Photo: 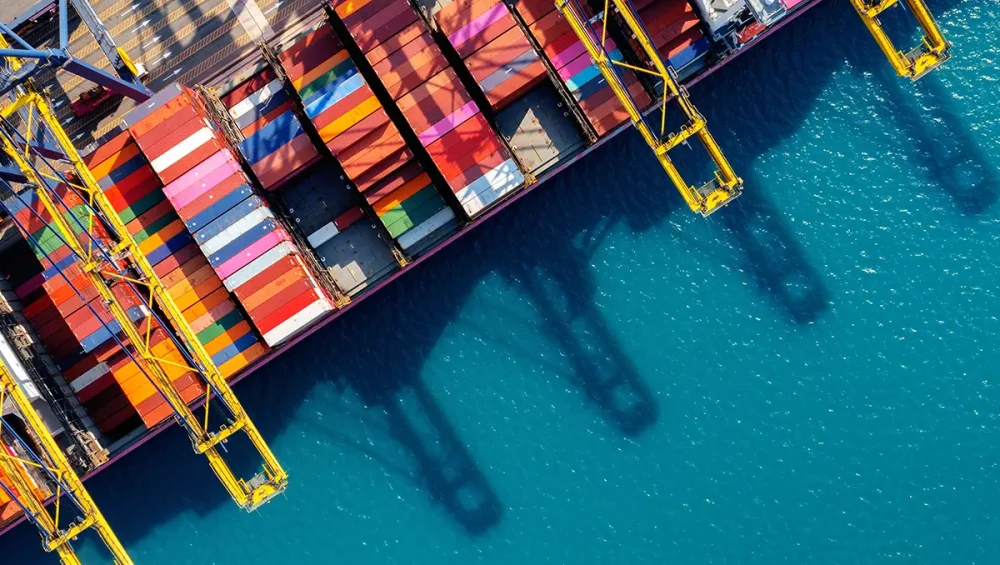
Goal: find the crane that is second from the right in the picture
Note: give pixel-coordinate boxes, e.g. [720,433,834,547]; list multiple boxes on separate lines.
[555,0,738,220]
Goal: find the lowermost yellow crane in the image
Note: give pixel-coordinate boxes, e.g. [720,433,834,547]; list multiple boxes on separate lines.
[0,367,127,565]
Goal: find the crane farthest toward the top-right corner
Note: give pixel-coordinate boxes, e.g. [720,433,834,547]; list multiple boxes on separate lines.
[848,0,947,86]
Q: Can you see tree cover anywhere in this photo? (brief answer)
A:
No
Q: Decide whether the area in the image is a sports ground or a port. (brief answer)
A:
port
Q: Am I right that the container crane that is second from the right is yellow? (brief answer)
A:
Yes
